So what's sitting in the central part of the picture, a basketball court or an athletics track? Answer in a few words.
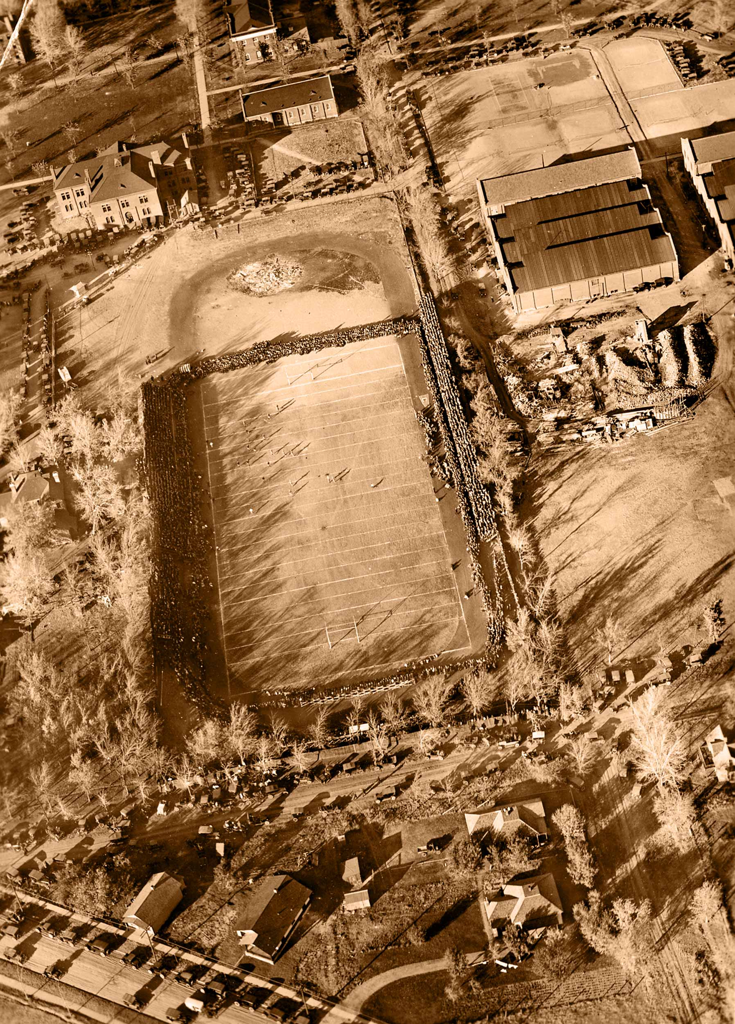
athletics track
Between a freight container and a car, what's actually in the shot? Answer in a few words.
car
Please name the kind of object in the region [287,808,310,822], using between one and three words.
car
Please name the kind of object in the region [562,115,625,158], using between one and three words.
tennis court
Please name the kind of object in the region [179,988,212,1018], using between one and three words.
truck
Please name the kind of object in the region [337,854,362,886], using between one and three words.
shed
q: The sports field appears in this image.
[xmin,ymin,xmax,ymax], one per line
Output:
[200,343,472,697]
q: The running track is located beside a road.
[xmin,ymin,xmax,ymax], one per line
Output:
[168,235,504,716]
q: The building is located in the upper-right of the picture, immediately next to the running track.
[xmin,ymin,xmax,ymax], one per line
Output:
[478,147,680,314]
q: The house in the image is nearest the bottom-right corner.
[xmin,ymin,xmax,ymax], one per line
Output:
[486,872,567,941]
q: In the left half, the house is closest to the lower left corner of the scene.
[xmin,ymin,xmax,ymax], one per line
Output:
[117,873,184,948]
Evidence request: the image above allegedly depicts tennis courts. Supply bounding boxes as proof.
[610,42,678,89]
[562,115,625,158]
[502,127,564,171]
[483,70,537,117]
[639,97,711,142]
